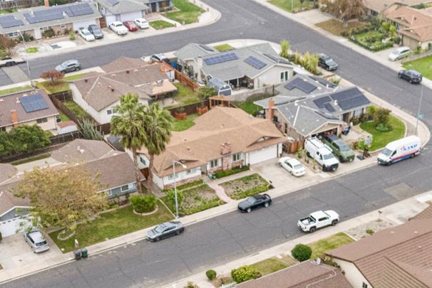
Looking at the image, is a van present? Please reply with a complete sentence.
Yes, looking at the shot, I can spot a van.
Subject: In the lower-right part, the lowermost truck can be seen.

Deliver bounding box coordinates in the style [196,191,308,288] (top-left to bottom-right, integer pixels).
[298,210,338,233]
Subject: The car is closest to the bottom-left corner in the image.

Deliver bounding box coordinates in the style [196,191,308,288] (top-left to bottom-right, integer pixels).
[23,230,51,253]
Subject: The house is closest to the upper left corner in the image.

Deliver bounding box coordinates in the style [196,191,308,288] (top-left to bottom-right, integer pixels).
[0,0,104,46]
